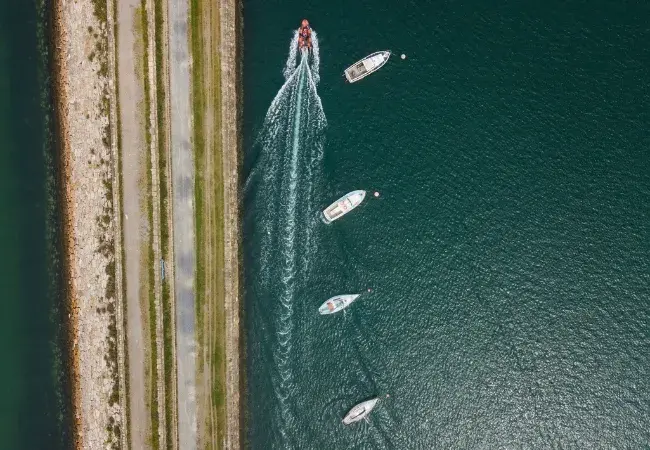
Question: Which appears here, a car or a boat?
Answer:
boat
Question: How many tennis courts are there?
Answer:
0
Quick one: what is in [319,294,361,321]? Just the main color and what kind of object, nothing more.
white boat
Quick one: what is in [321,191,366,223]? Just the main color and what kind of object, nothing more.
white boat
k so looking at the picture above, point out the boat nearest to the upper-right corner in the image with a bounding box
[343,48,393,83]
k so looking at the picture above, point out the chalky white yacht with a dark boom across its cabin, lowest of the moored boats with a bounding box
[343,397,378,437]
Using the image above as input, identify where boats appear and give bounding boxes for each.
[321,191,366,223]
[298,18,312,50]
[319,294,361,321]
[343,397,378,437]
[343,48,393,83]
